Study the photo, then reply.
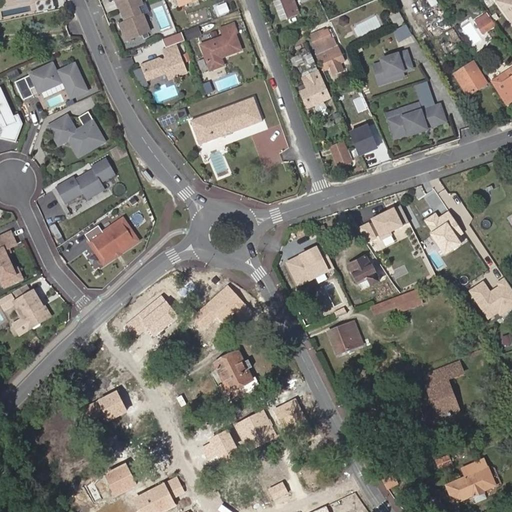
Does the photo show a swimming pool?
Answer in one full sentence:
Yes, the picture does show a swimming pool.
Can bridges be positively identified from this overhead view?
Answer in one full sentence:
No, this view has no bridge in it.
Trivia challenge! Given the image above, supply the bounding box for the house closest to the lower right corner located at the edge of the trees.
[446,458,496,505]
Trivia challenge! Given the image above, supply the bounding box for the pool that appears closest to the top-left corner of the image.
[2,5,32,18]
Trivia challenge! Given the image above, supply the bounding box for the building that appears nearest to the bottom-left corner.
[105,463,139,496]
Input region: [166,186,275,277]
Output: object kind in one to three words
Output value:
roundabout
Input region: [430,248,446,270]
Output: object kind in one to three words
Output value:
swimming pool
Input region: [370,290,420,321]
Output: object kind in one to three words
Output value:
shed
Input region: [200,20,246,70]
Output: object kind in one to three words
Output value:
house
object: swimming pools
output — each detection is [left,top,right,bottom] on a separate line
[45,94,65,109]
[152,84,180,104]
[2,5,32,18]
[131,212,145,226]
[214,74,240,94]
[152,4,172,30]
[208,148,231,178]
[430,248,446,270]
[323,283,338,299]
